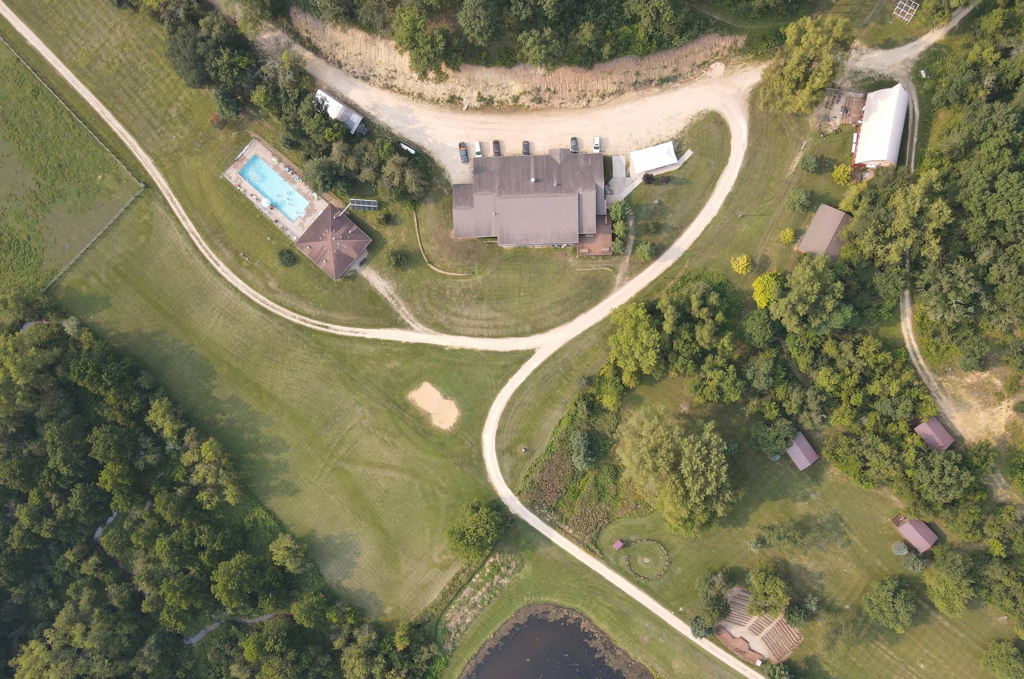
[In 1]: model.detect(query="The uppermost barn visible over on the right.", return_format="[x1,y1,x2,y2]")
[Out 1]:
[851,84,911,171]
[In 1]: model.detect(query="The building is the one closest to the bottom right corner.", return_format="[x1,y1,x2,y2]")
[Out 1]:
[899,516,938,555]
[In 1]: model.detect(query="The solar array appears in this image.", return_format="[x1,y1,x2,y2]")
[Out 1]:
[350,199,378,211]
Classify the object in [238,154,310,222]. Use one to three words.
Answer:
swimming pool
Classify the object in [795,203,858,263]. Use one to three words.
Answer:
building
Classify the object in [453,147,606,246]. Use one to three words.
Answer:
building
